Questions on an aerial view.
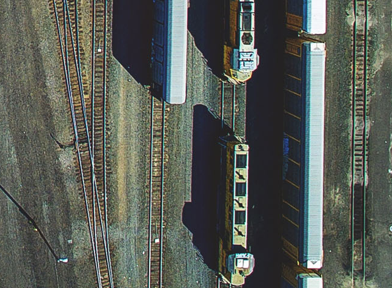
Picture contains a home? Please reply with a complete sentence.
No, there appears to be no home in this shot.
